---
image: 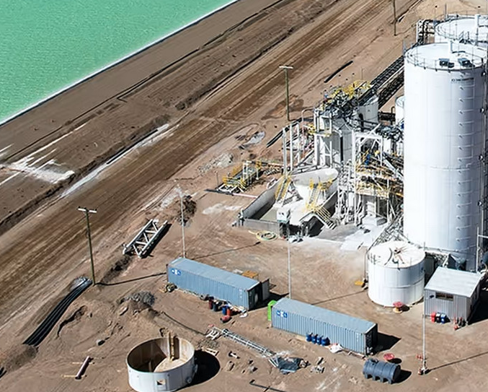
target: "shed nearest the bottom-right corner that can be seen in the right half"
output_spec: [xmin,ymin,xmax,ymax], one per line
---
[424,266,480,327]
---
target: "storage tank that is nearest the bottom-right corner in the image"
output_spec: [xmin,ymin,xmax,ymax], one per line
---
[365,355,402,383]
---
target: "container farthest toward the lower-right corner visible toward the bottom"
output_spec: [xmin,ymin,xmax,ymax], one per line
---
[270,296,374,355]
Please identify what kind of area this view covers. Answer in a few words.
industrial area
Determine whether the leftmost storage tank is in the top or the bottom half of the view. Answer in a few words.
bottom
